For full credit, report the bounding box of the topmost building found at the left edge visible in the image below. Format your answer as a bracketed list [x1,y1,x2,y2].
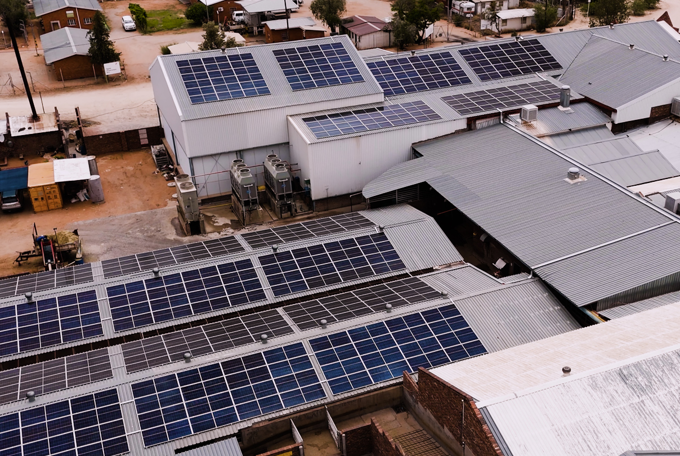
[34,0,98,33]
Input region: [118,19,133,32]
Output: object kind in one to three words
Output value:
vehicle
